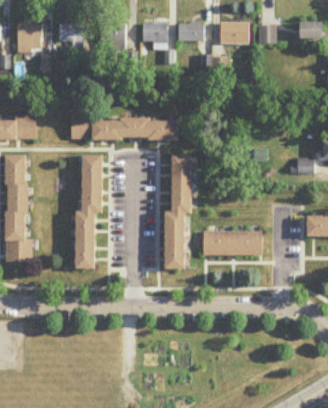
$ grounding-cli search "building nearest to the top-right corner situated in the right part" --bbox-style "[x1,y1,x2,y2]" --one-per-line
[299,22,324,41]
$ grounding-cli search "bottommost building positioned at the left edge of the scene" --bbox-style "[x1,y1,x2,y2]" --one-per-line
[5,155,39,262]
